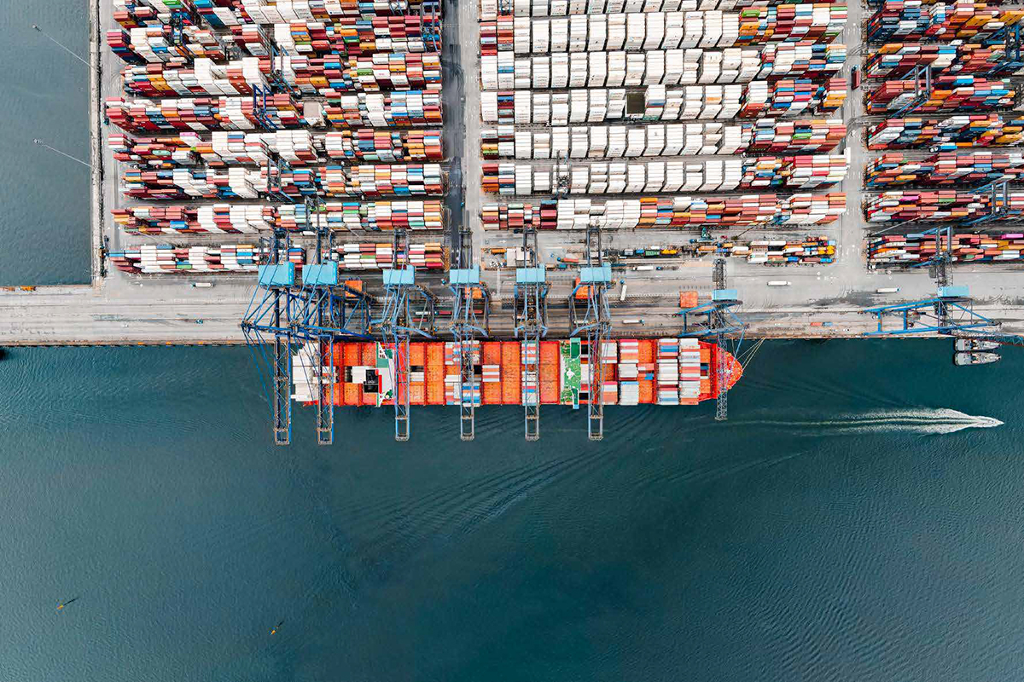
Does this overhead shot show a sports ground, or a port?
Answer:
port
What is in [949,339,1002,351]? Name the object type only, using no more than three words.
boat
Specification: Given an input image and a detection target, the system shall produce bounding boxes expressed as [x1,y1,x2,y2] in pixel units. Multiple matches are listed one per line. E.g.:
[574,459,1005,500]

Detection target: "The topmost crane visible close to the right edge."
[963,14,1021,79]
